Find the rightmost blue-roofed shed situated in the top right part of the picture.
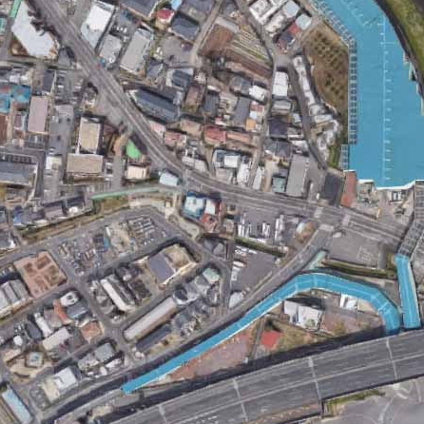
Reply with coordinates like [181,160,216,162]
[325,0,424,194]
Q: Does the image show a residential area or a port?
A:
residential area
